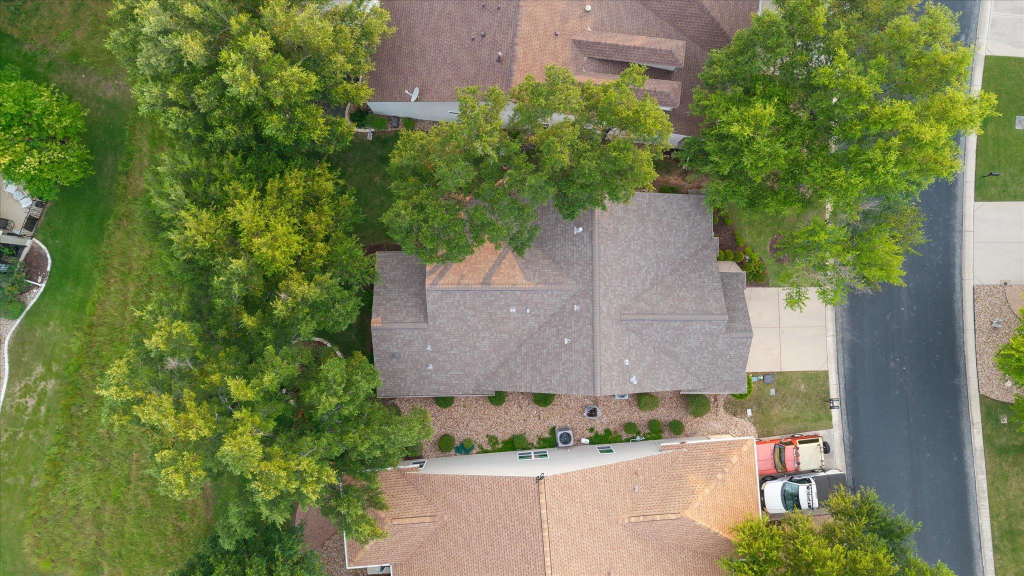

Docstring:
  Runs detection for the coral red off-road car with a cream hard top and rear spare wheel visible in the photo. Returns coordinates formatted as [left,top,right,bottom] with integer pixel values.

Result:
[758,434,828,475]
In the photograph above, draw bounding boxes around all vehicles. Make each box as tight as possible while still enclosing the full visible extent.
[758,434,828,475]
[761,468,854,515]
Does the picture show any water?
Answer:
No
